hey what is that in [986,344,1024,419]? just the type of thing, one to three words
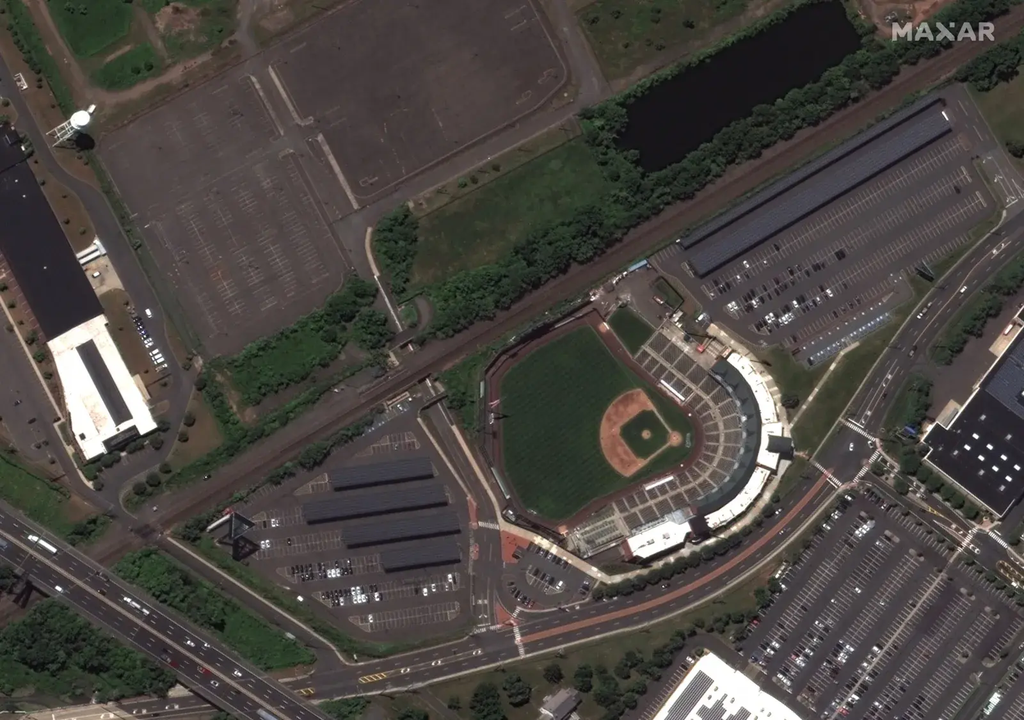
solar array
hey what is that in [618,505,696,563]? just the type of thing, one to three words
building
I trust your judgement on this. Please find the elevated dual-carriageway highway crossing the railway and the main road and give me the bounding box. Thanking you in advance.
[0,502,337,720]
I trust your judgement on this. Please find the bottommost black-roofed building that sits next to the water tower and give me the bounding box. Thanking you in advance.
[0,129,103,345]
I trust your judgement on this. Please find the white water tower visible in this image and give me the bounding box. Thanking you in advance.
[46,106,86,147]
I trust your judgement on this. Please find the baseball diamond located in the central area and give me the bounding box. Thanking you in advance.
[491,310,704,537]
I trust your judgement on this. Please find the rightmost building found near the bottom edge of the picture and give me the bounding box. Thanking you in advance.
[649,652,802,720]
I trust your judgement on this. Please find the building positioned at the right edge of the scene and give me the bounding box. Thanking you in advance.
[916,315,1024,520]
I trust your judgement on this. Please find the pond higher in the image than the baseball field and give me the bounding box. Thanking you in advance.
[620,0,857,173]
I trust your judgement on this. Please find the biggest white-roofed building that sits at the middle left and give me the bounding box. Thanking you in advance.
[43,313,158,464]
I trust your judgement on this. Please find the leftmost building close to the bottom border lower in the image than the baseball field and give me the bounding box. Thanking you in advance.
[540,689,580,720]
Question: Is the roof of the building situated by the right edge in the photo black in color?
Yes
